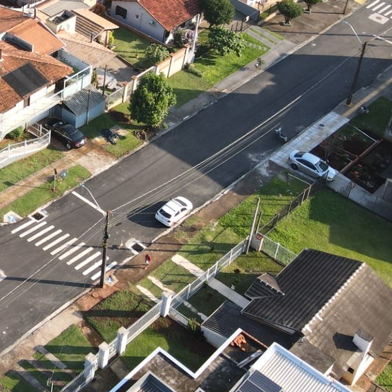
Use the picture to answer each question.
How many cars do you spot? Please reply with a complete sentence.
The photo contains 3 cars.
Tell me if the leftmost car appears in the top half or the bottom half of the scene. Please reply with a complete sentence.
Seen from above, the leftmost car lies in the top half of the view.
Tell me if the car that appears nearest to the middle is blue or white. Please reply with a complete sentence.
In this view, the car that appears nearest to the middle is white.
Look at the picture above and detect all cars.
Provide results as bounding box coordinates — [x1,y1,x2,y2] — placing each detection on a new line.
[288,149,337,180]
[47,117,89,144]
[152,197,195,228]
